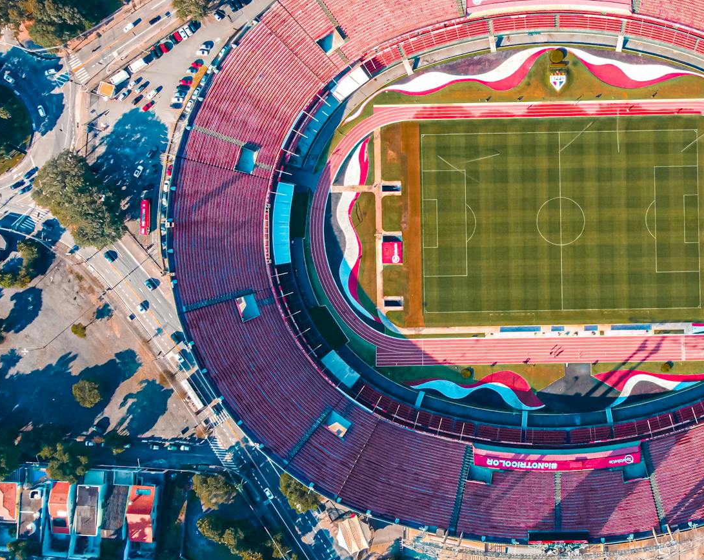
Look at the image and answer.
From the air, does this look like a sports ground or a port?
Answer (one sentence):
What you see here is a sports ground.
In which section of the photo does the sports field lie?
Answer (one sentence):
Look in the right portion of the view to spot the sports field.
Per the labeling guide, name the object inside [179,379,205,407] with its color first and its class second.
white bus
